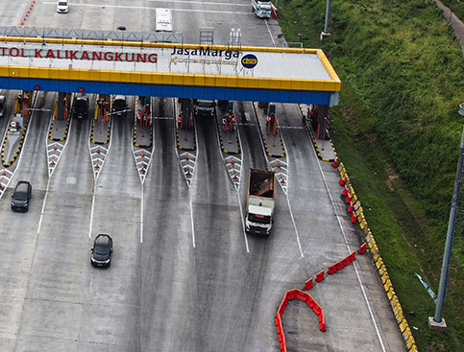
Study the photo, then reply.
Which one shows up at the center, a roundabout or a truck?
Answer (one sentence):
It is a truck that can be seen at the center.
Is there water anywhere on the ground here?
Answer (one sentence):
No, the picture contains no water.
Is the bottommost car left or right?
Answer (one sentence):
It is on the left.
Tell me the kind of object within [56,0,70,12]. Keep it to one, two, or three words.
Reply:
vehicle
